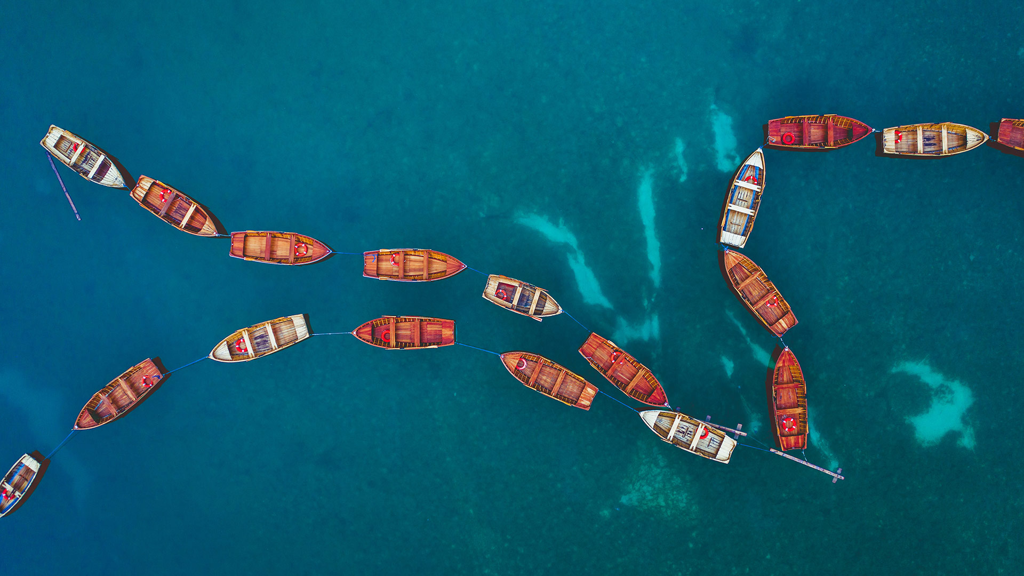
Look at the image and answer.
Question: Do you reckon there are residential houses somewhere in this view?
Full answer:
No, no residential house can be seen from above.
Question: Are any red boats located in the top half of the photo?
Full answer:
Yes, in the top half of the photo there is a red boat.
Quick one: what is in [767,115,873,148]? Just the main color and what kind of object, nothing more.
red boat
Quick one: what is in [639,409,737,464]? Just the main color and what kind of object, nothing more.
white boat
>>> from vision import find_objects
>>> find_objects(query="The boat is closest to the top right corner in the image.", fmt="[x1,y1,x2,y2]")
[993,118,1024,151]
